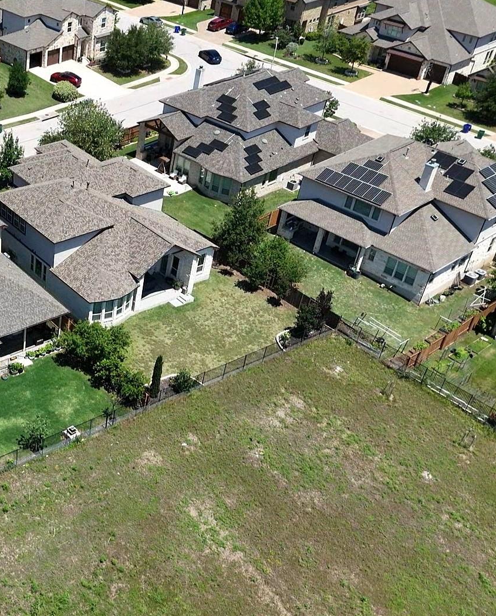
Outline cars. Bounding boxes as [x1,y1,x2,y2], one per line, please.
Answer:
[206,14,232,31]
[194,47,229,63]
[222,19,252,33]
[46,67,82,82]
[136,12,167,23]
